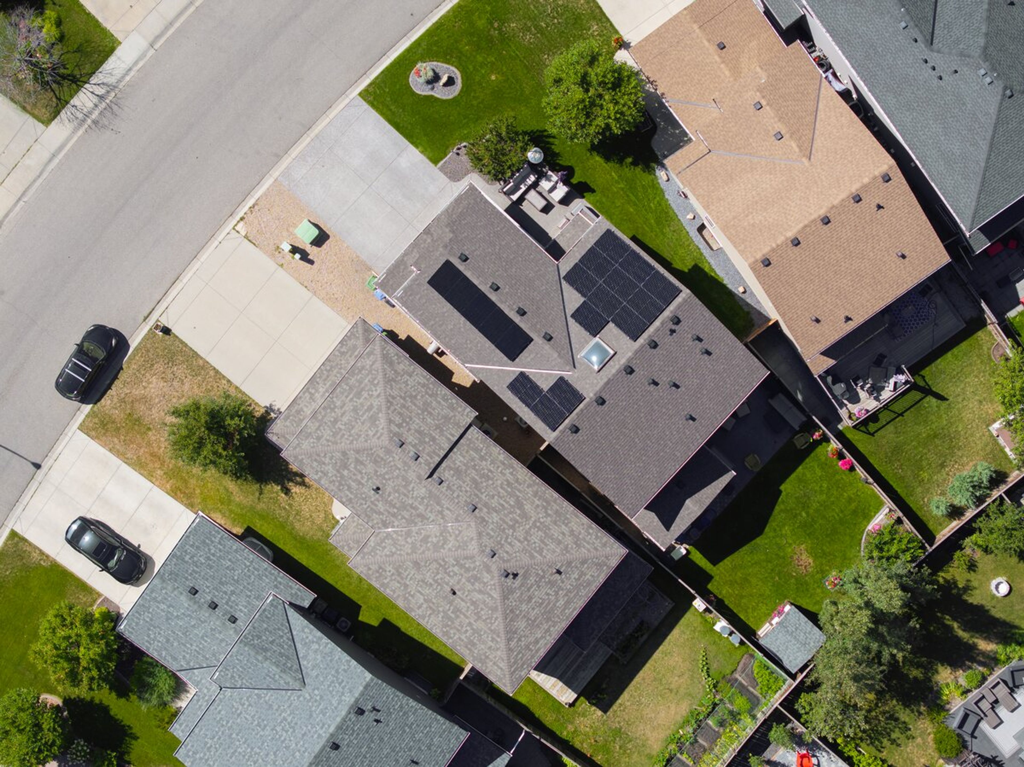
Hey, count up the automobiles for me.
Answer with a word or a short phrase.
2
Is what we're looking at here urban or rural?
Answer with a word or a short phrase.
urban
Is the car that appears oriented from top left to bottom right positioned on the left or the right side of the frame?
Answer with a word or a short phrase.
left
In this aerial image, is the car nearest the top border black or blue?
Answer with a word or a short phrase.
black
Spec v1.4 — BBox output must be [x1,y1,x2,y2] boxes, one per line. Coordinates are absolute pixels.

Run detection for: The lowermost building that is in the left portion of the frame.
[115,510,525,767]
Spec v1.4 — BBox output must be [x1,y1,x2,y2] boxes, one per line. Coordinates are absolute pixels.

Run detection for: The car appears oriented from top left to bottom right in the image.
[61,516,146,586]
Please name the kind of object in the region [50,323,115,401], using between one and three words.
car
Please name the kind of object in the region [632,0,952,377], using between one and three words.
house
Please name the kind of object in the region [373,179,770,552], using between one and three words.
house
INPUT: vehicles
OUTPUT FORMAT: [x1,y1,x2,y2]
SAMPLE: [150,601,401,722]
[50,323,115,401]
[61,516,146,586]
